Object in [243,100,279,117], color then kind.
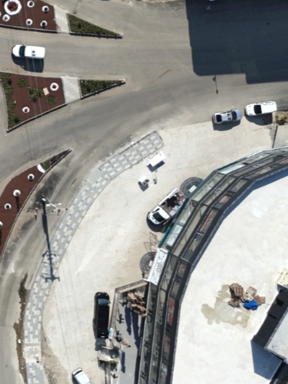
white vehicle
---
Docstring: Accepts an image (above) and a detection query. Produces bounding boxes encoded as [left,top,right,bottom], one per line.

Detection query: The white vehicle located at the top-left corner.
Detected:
[11,44,46,60]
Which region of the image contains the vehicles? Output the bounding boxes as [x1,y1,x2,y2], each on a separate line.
[70,369,90,384]
[210,109,242,125]
[150,189,187,224]
[243,100,279,117]
[93,293,112,338]
[11,44,46,60]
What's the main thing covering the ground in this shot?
paved ground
